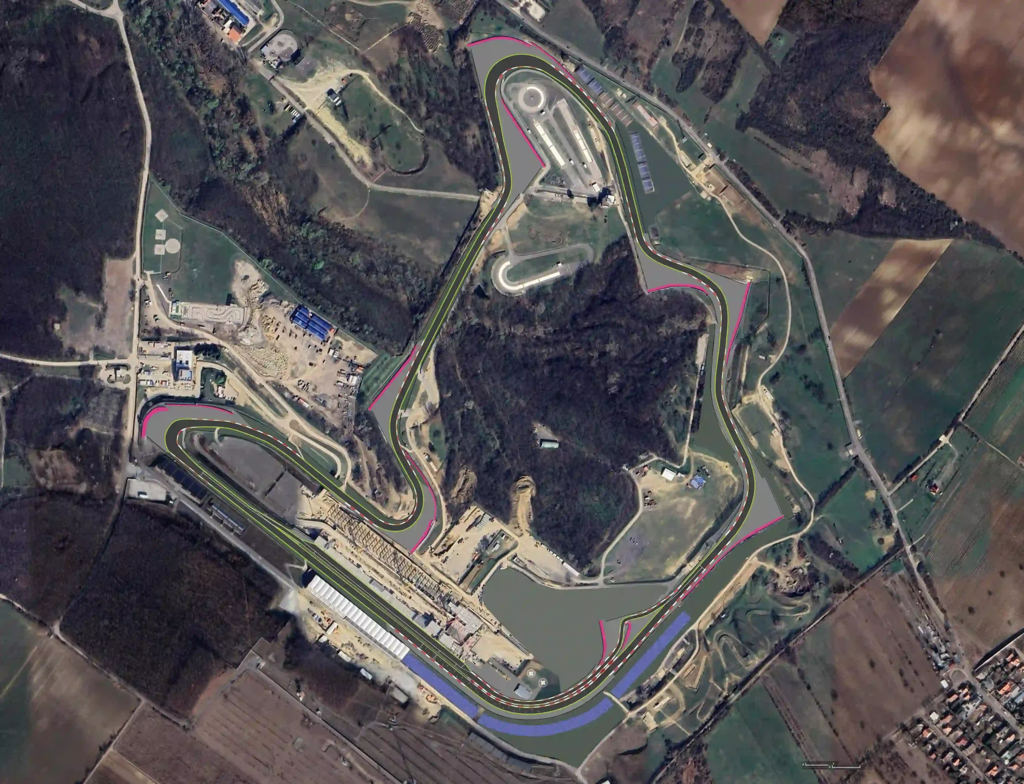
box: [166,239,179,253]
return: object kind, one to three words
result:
helipad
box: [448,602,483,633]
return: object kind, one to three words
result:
building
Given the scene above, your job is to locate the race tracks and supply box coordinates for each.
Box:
[167,55,755,714]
